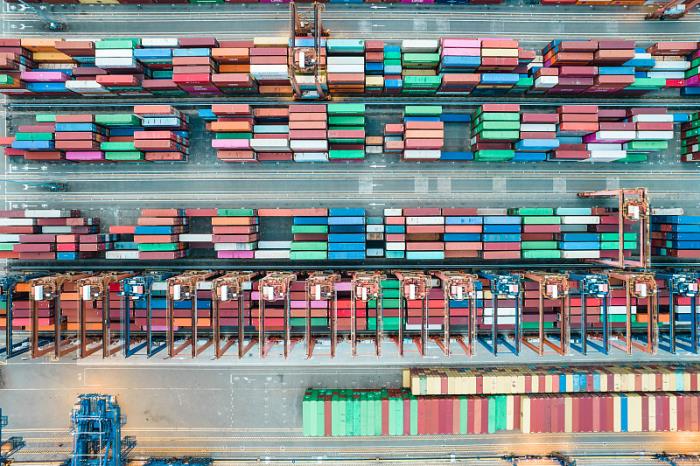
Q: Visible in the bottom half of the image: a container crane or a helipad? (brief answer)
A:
container crane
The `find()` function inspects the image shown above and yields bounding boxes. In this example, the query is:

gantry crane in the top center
[288,0,332,101]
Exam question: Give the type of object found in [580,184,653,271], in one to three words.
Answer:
container crane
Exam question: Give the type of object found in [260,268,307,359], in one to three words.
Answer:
container crane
